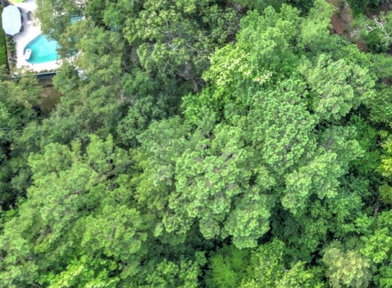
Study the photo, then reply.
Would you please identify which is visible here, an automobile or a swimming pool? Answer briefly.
swimming pool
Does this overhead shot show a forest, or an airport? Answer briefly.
forest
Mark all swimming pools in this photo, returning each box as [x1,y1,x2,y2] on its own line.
[21,24,85,65]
